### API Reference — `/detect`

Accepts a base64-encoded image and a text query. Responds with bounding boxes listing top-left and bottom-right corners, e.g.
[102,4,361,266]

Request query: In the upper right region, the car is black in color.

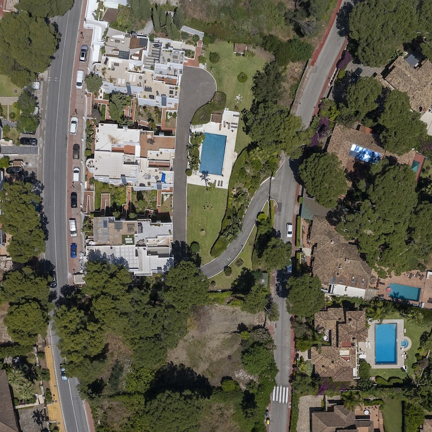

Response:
[350,67,362,83]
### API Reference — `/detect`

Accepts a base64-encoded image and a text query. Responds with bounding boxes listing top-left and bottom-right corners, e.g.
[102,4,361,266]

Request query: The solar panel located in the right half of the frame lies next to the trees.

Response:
[350,144,382,161]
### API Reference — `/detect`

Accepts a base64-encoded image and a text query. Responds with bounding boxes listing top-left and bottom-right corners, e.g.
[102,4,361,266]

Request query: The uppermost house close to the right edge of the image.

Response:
[376,53,432,114]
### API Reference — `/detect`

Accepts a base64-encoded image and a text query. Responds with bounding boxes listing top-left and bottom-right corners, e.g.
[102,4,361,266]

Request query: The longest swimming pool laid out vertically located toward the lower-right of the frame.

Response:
[374,321,398,379]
